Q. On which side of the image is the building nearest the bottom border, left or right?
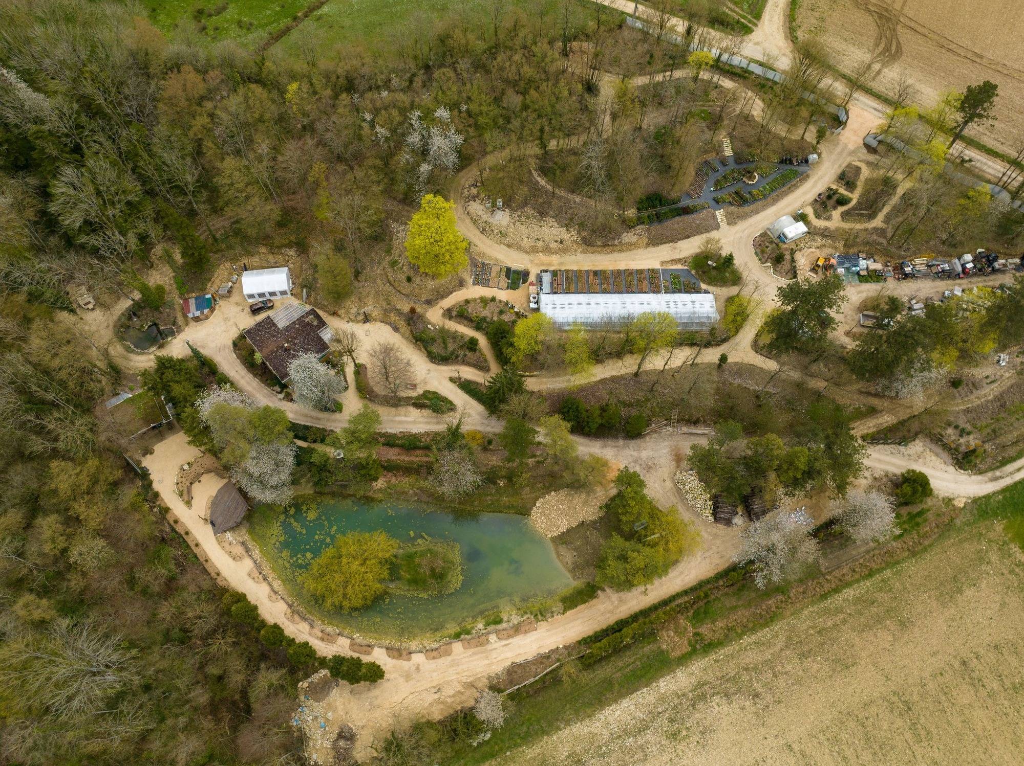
left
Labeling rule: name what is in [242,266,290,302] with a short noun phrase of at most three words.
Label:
shed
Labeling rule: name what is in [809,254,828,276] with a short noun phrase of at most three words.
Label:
work vehicle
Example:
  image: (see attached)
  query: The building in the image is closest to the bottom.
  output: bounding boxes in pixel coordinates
[209,481,252,539]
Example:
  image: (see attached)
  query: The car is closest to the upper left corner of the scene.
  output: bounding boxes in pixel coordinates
[247,301,275,316]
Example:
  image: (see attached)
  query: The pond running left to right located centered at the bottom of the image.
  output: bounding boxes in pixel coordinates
[248,495,571,645]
